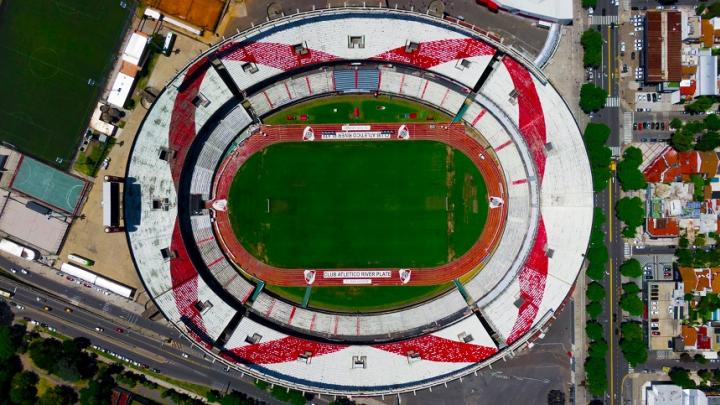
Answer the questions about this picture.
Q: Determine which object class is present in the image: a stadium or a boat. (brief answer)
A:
stadium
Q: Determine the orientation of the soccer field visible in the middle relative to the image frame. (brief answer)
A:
from side to side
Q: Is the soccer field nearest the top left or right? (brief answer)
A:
left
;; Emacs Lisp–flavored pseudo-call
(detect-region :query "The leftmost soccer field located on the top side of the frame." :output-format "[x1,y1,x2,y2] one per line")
[0,0,141,171]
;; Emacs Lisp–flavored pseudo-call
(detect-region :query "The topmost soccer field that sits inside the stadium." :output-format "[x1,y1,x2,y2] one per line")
[229,140,487,269]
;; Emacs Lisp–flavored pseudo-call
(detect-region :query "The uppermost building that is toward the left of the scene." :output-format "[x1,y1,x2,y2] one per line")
[122,33,151,66]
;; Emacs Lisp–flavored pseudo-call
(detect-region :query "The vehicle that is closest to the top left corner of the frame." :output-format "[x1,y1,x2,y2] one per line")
[162,32,176,55]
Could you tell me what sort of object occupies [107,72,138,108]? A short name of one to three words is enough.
building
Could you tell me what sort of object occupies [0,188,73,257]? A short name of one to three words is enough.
sports court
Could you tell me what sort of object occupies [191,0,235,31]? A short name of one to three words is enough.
tennis court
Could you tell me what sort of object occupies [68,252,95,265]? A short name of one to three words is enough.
vehicle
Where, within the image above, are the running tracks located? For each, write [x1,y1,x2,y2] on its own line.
[214,122,504,286]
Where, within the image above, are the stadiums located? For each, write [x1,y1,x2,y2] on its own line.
[125,3,594,401]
